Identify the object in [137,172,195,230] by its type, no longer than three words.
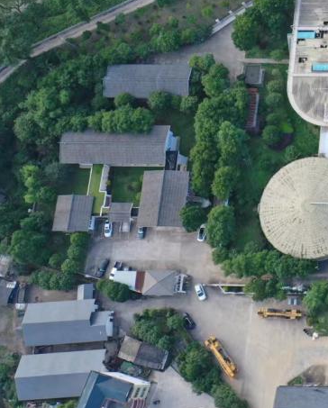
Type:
house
